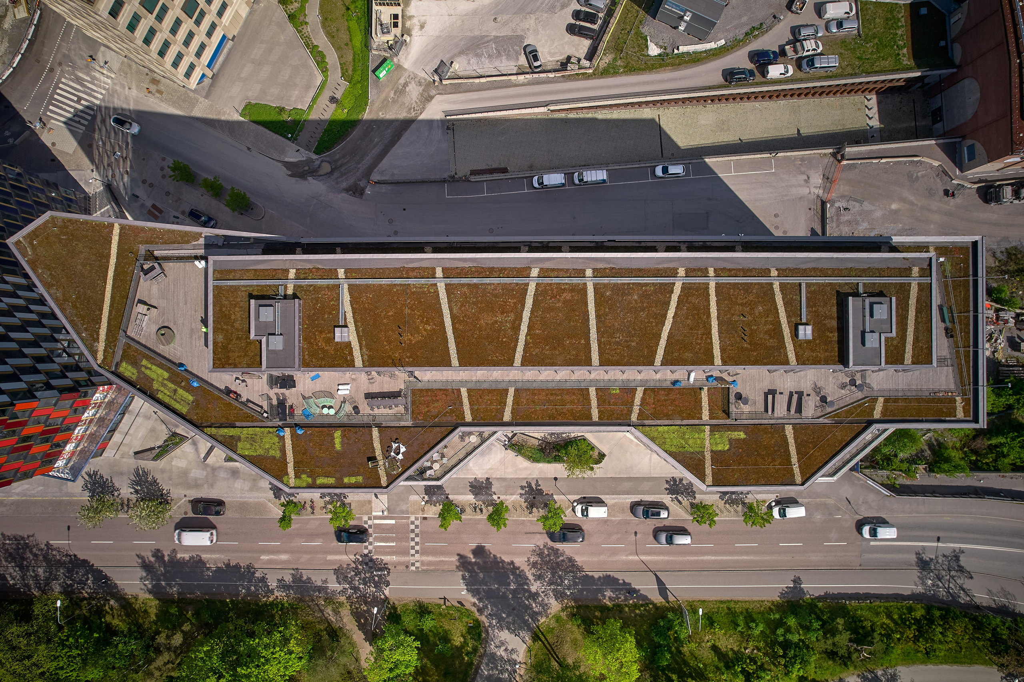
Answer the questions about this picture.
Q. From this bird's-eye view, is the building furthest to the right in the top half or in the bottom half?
top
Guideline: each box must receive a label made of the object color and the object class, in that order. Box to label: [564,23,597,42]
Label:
black car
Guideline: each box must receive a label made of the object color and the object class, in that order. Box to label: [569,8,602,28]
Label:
black car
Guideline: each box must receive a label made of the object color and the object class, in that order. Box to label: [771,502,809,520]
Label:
white vehicle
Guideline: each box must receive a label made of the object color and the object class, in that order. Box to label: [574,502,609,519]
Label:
white vehicle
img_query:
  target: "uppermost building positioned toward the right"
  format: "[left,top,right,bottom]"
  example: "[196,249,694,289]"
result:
[651,0,728,46]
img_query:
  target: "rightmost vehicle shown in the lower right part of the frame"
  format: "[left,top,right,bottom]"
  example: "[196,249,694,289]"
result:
[860,523,899,540]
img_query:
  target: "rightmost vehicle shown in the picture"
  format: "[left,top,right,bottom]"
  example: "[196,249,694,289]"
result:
[991,183,1024,205]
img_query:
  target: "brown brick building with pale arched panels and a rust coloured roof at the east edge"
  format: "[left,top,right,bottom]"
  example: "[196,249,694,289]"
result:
[931,0,1024,173]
